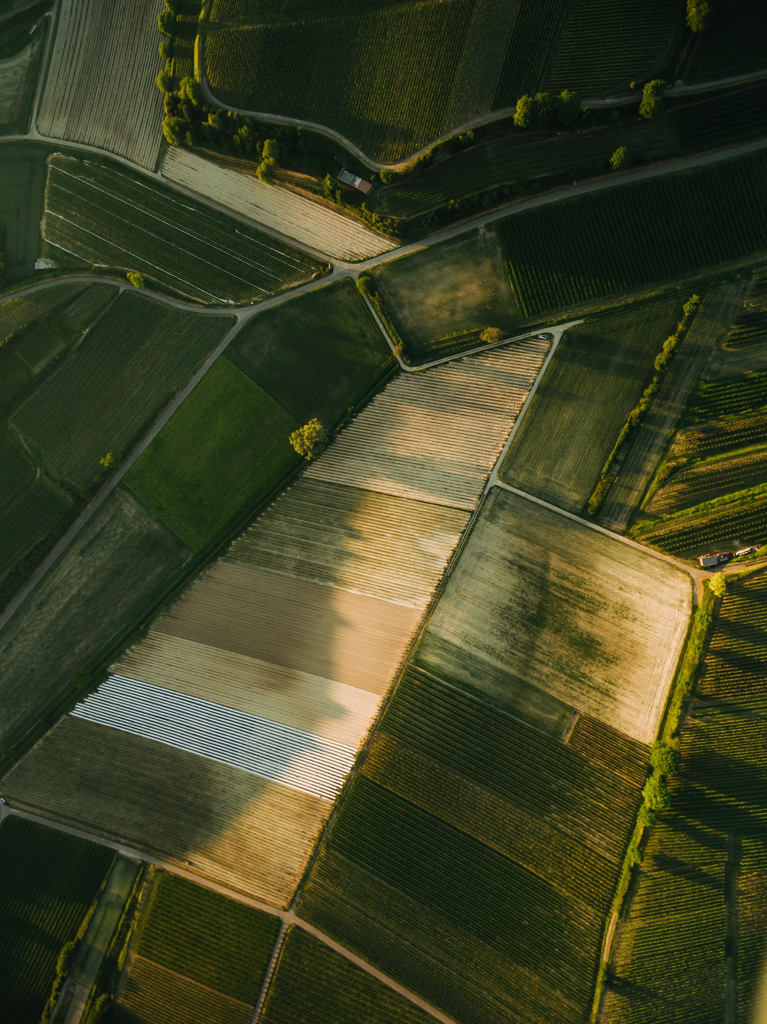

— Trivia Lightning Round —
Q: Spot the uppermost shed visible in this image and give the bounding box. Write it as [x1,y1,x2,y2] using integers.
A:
[338,167,374,197]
